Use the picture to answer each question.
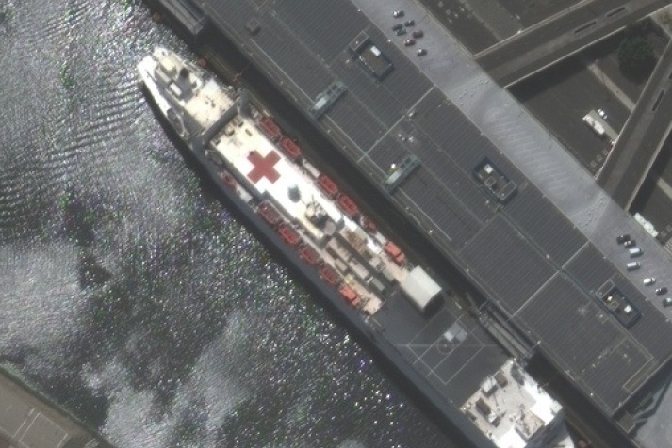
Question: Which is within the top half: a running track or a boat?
boat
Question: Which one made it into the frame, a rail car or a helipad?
helipad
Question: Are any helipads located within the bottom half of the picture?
Yes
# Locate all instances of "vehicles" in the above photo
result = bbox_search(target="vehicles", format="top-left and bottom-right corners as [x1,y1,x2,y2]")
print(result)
[404,39,416,45]
[404,20,416,27]
[413,31,425,38]
[656,288,668,293]
[392,11,404,17]
[664,299,672,304]
[598,110,609,119]
[628,262,641,269]
[625,241,637,247]
[583,115,605,132]
[629,249,642,256]
[643,278,655,285]
[397,29,409,35]
[618,235,630,242]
